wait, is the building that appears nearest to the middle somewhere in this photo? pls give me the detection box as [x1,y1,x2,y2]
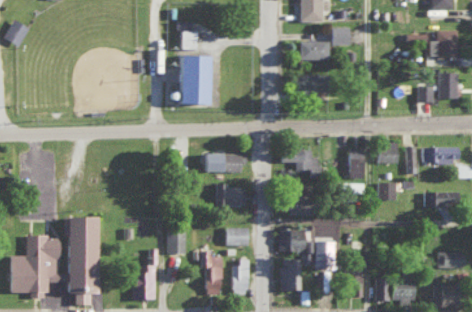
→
[206,152,246,181]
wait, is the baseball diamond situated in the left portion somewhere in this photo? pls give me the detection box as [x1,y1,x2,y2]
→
[16,0,144,116]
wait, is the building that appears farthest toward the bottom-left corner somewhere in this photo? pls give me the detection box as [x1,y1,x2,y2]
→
[10,236,62,298]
